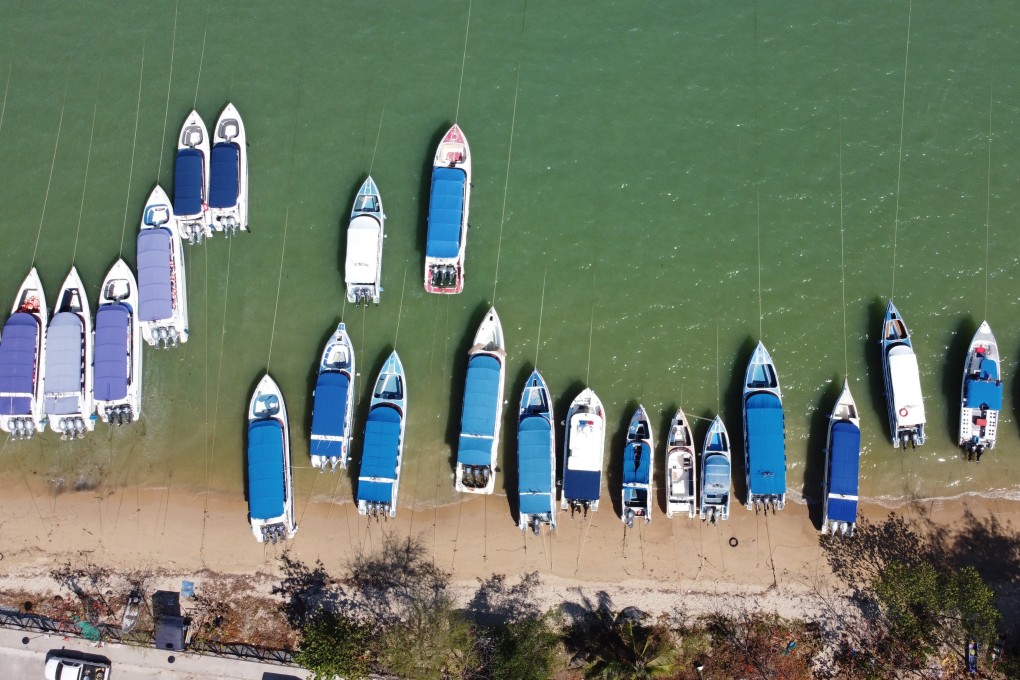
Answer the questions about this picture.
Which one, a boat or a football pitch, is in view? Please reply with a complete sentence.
This aerial view contains a boat.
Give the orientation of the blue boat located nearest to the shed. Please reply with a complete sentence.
Seen from above, the blue boat located nearest to the shed lies vertically.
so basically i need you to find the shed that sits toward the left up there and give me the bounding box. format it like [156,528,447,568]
[154,609,186,649]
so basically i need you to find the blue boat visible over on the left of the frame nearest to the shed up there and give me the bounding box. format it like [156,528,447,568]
[248,374,298,545]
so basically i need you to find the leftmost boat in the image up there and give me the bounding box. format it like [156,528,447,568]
[0,266,54,437]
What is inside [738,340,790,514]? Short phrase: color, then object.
blue boat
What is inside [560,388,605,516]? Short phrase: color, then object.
white boat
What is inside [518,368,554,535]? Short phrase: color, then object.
blue boat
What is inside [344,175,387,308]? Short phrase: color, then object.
white boat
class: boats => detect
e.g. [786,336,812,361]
[876,302,929,455]
[0,266,54,437]
[665,407,698,517]
[172,110,214,242]
[456,306,506,494]
[248,374,298,545]
[43,266,98,436]
[560,388,605,516]
[696,415,732,528]
[955,321,1002,455]
[738,340,790,514]
[358,349,406,522]
[307,323,360,473]
[344,175,387,308]
[819,378,863,542]
[137,184,191,347]
[623,405,653,530]
[424,122,474,296]
[518,368,554,535]
[95,258,146,425]
[207,102,254,235]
